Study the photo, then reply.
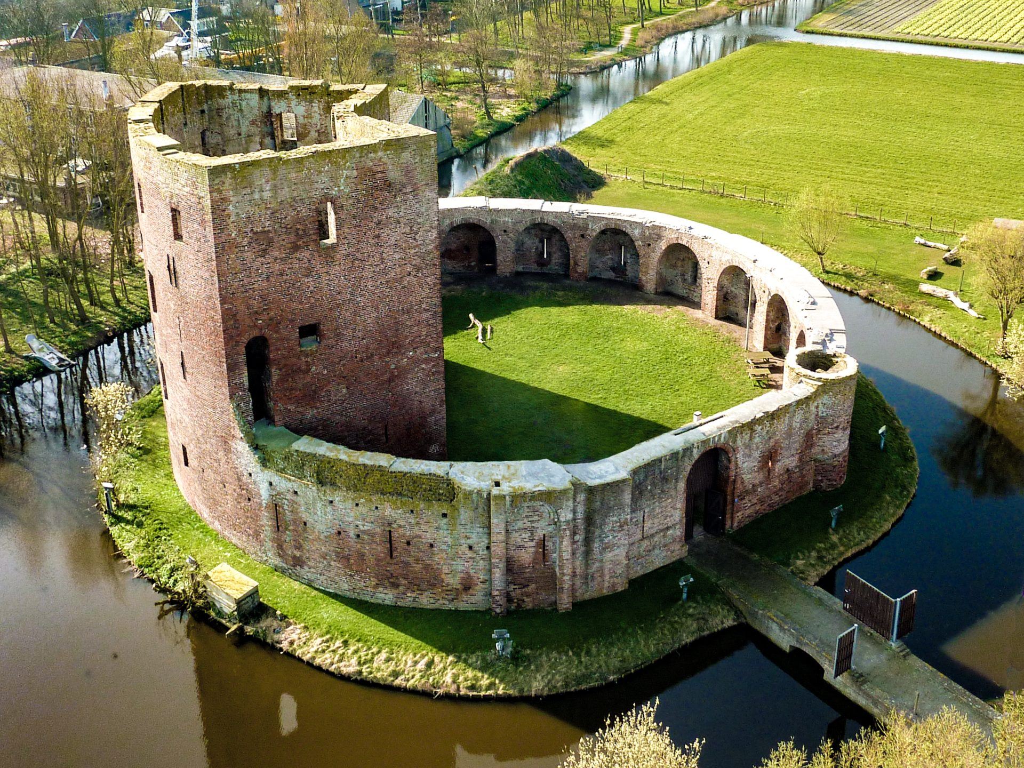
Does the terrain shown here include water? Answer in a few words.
Yes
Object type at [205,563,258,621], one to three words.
shed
